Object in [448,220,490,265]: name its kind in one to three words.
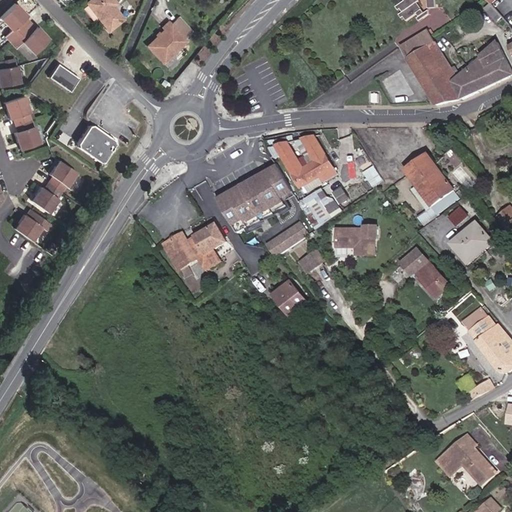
house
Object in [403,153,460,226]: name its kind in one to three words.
barn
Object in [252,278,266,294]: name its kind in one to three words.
vehicle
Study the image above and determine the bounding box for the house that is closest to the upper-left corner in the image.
[1,4,34,48]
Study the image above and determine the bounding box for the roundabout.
[154,94,220,161]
